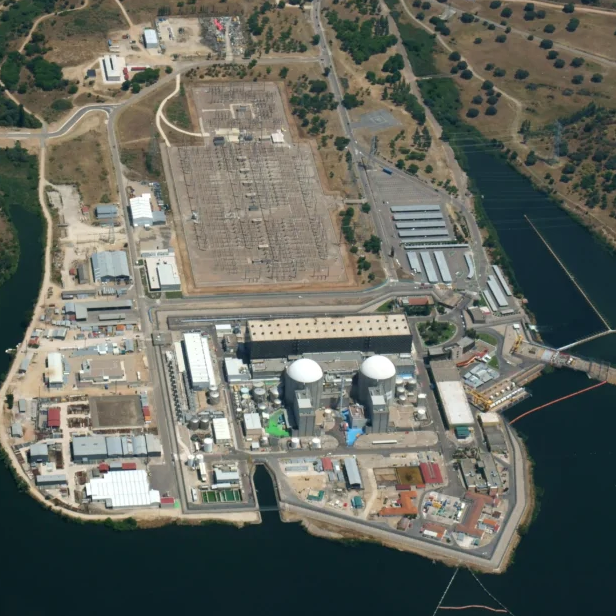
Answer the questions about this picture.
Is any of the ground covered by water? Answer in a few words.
Yes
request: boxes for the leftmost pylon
[101,210,119,245]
